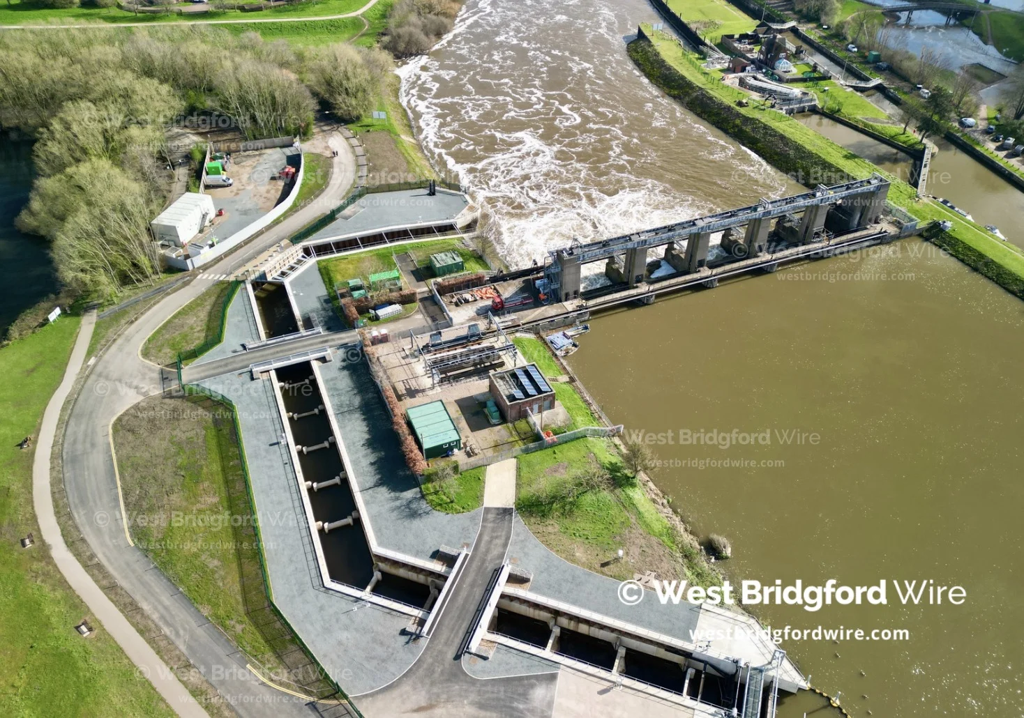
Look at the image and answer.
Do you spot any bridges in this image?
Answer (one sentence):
Yes, I can see a bridge in this picture.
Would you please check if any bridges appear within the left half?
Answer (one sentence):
Yes, there is a bridge within the left half.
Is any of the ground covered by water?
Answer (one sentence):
Yes, water shows up in the scene.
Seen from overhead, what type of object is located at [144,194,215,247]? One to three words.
building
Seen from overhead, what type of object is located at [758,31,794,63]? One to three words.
house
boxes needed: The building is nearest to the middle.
[485,359,556,422]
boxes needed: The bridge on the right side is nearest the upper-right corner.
[879,4,982,24]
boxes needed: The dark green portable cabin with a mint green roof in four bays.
[400,395,461,458]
